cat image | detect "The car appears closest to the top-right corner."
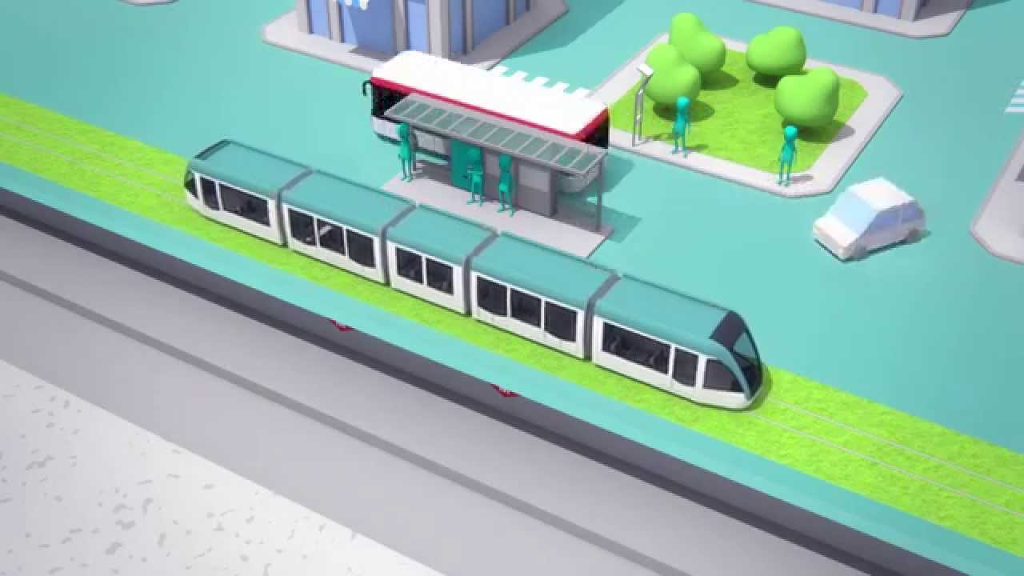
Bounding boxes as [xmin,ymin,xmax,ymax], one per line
[816,171,930,255]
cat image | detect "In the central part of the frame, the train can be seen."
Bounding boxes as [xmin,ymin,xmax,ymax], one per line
[185,143,765,409]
